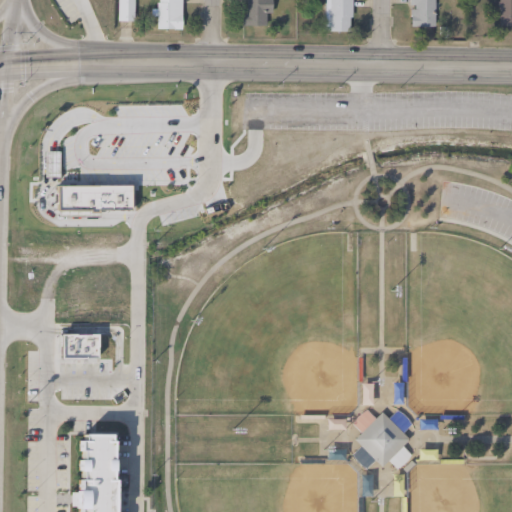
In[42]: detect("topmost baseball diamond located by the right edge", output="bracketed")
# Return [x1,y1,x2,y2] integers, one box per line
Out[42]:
[407,233,512,414]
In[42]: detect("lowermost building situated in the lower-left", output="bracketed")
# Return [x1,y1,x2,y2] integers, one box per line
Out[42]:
[70,432,122,512]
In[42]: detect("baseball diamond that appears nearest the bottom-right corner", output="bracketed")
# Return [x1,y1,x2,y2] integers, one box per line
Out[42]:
[409,464,512,512]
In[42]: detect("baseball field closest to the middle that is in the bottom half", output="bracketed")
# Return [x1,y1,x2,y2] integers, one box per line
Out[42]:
[178,233,359,414]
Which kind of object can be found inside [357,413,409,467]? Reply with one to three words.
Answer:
building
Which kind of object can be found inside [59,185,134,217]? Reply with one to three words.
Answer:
building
